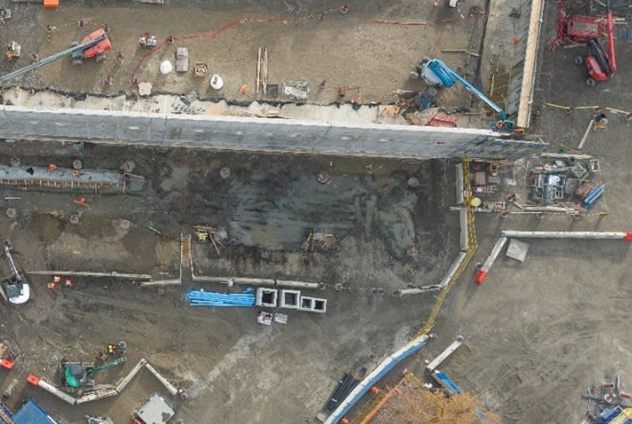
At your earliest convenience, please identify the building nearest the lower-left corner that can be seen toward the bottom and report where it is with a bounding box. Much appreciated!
[137,392,176,424]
